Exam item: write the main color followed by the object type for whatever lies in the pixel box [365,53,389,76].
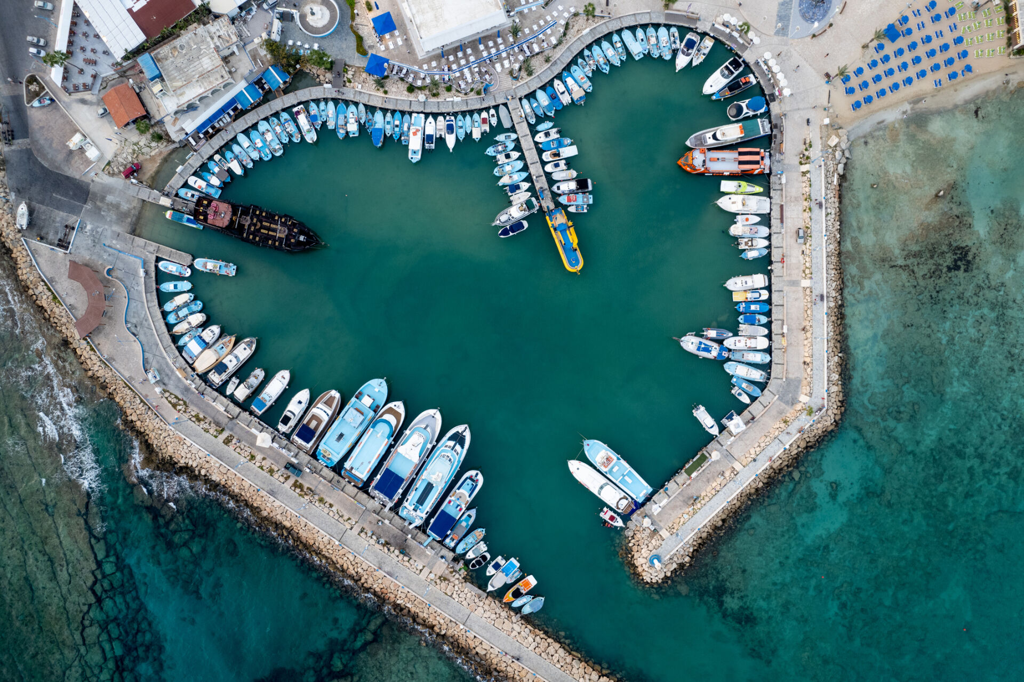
blue tent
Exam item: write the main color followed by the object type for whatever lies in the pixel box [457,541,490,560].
white boat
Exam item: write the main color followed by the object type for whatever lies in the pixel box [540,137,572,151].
blue boat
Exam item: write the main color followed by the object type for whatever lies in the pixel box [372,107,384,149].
blue boat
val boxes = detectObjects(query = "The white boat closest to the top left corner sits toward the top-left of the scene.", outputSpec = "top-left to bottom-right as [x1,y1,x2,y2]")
[66,133,86,151]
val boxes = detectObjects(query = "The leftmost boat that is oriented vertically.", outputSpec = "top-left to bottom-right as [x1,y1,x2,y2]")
[17,200,30,228]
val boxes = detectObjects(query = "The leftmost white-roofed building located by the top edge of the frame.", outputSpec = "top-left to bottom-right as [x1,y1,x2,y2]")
[82,0,147,65]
